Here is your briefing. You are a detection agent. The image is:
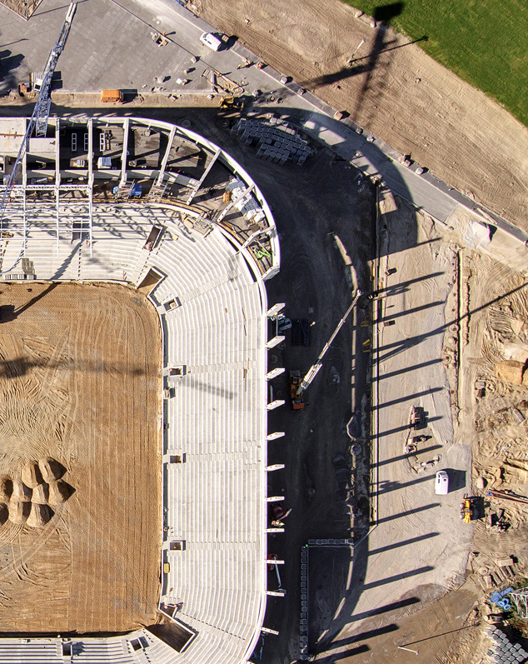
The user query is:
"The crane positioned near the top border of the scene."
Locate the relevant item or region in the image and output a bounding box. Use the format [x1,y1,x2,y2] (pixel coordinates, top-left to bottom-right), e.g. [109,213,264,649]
[0,1,77,213]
